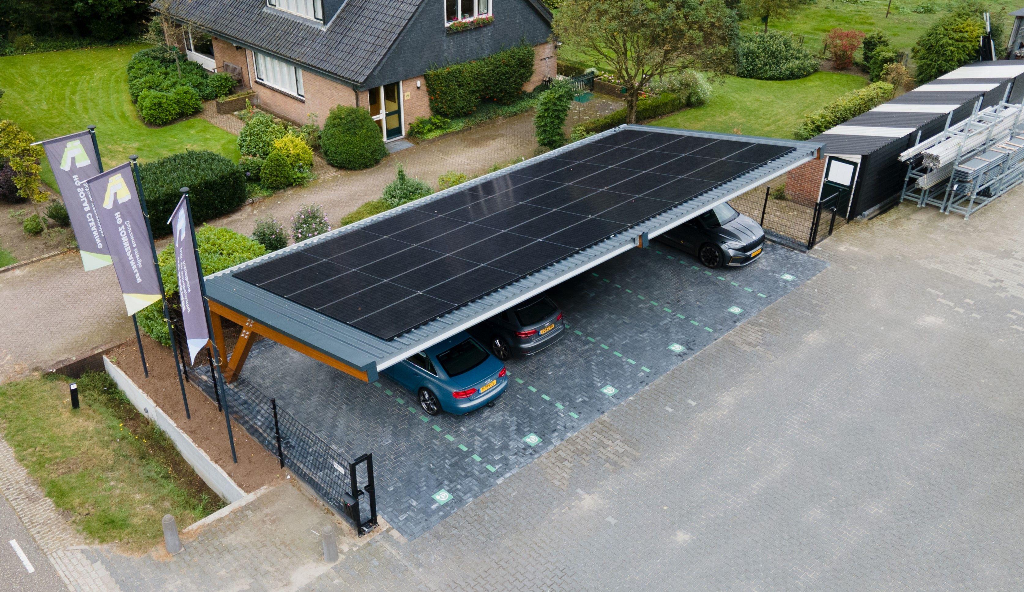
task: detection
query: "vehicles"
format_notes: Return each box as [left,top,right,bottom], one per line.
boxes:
[456,286,570,361]
[641,196,772,267]
[385,324,514,418]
